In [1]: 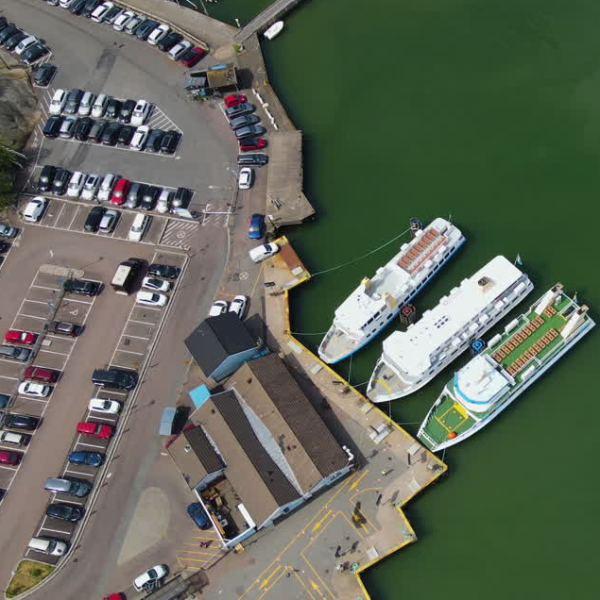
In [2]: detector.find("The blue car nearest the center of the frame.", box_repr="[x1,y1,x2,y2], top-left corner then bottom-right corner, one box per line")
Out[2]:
[248,211,265,237]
